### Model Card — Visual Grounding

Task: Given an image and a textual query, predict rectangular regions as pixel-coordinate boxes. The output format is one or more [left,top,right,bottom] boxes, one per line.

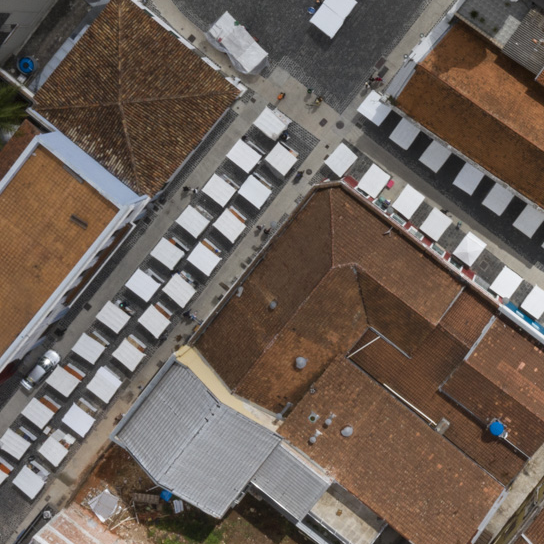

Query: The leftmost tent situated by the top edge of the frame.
[208,12,269,73]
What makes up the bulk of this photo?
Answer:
buildings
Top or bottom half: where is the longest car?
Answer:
bottom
